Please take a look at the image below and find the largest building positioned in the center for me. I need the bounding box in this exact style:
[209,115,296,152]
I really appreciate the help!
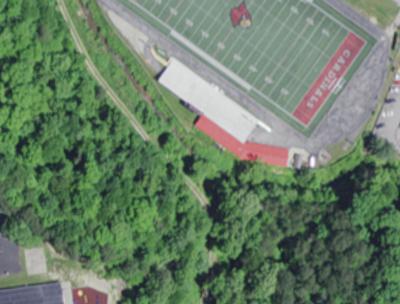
[196,114,288,166]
